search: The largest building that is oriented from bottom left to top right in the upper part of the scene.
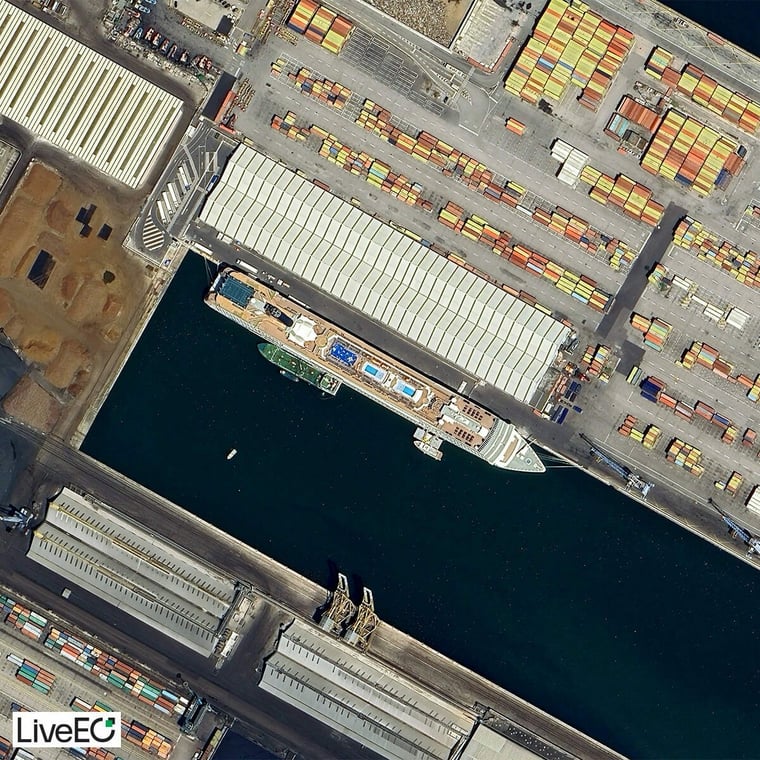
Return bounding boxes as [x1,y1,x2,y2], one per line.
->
[201,71,240,122]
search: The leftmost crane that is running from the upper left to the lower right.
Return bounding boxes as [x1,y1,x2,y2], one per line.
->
[589,448,658,503]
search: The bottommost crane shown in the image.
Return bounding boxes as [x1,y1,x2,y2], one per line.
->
[170,686,222,736]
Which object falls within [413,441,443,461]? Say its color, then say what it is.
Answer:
white boat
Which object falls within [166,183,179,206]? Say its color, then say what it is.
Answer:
white vehicle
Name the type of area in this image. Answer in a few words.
port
